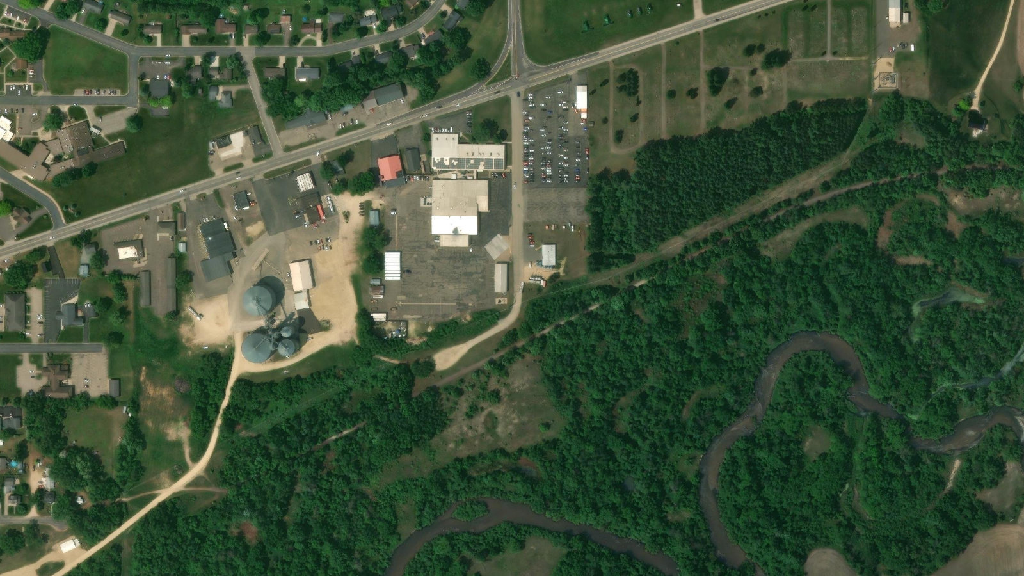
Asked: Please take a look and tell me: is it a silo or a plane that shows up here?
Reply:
silo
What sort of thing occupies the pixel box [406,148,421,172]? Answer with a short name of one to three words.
barn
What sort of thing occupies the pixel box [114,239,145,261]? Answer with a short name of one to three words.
building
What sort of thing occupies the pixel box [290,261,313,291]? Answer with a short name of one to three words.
shed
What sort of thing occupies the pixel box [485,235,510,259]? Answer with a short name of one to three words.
building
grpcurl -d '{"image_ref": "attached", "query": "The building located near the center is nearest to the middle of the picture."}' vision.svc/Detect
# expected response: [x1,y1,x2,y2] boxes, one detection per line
[495,264,507,292]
